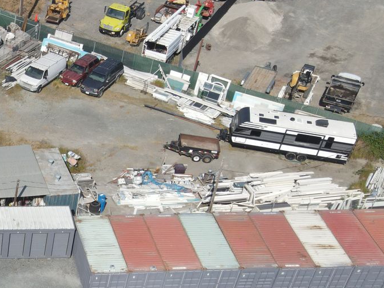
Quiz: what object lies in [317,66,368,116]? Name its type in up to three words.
truck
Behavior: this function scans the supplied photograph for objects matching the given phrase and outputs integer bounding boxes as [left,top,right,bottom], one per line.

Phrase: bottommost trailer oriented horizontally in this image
[150,132,215,164]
